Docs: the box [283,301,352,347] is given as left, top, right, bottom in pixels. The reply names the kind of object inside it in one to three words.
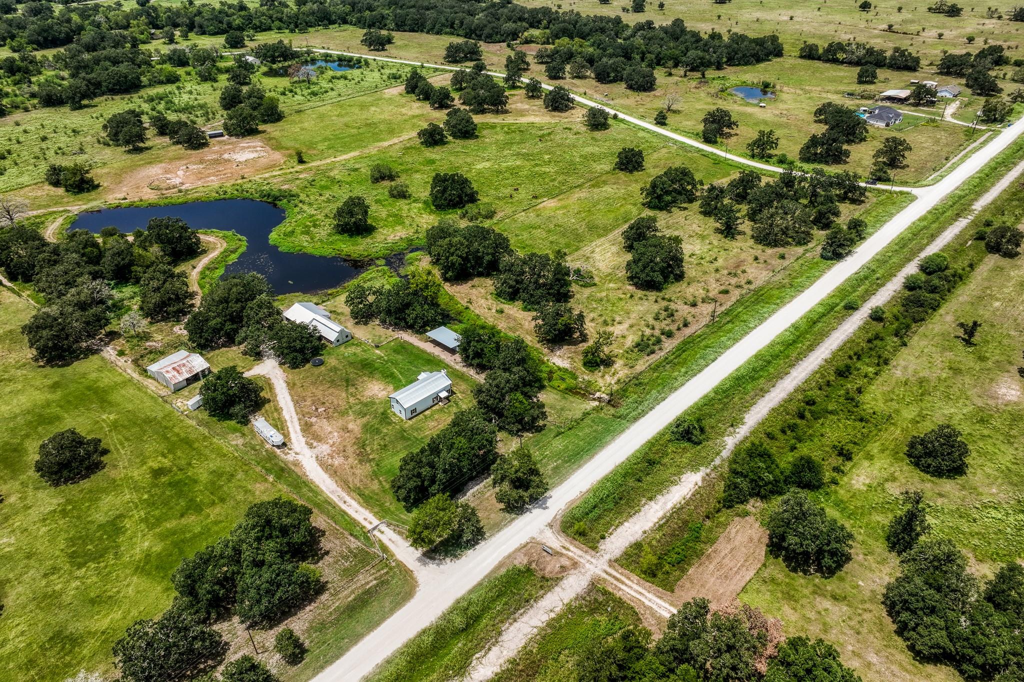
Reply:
barn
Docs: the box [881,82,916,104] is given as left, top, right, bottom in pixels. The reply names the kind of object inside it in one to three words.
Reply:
shed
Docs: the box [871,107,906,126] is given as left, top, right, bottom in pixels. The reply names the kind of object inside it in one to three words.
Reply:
house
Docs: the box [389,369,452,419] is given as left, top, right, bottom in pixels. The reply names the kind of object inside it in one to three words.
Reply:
house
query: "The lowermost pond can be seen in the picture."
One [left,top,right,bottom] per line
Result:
[65,199,423,296]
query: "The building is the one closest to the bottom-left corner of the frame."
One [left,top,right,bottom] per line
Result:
[145,348,211,392]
